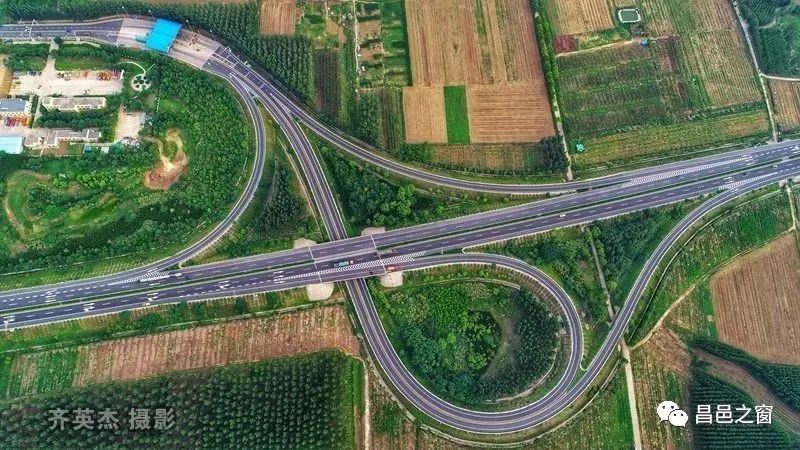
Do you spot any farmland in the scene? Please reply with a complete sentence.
Yes, there's farmland in this view.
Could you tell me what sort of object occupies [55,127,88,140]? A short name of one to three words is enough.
building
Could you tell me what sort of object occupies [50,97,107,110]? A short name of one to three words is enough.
building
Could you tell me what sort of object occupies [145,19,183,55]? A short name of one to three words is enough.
toll station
